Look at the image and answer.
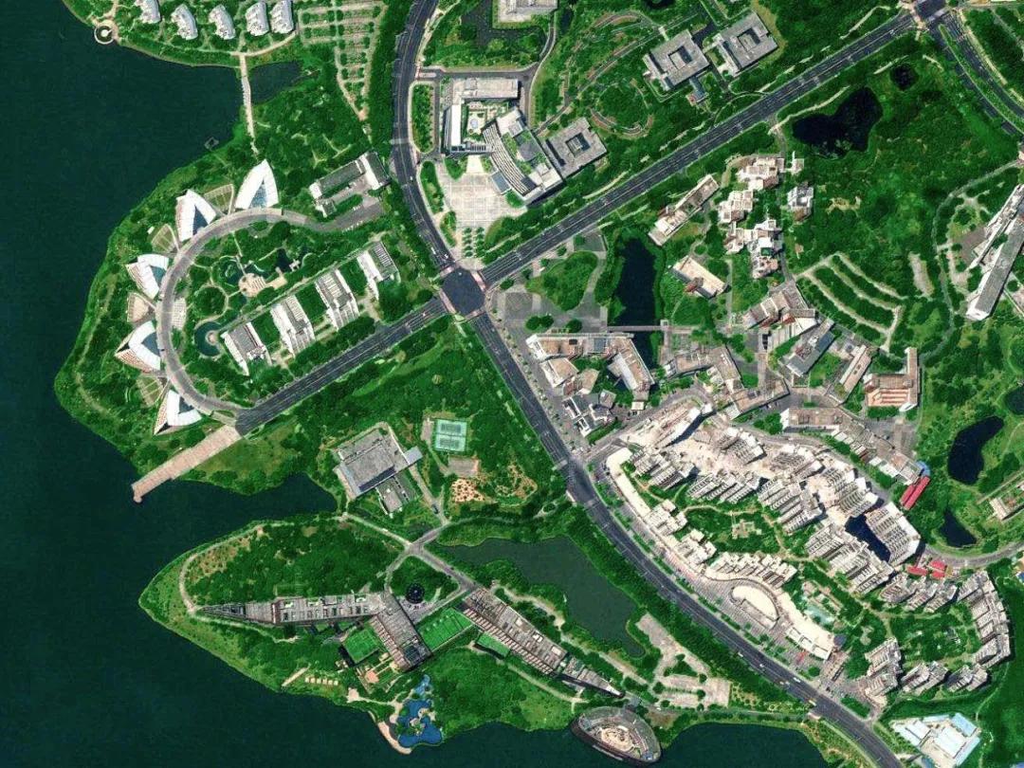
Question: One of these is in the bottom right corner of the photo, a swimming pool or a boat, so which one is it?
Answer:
swimming pool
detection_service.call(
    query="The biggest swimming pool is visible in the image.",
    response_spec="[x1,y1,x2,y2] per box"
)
[398,675,442,746]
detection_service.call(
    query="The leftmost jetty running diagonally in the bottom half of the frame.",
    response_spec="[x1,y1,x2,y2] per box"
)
[132,426,239,503]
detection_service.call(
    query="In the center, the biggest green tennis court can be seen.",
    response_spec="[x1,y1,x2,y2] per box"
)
[434,419,468,452]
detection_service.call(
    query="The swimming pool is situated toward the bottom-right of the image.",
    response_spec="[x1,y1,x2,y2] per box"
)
[804,604,835,624]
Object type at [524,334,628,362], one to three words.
building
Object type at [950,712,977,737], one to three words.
shed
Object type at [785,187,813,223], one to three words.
house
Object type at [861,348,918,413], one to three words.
building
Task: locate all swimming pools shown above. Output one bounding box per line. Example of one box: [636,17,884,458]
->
[398,675,442,746]
[804,604,835,624]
